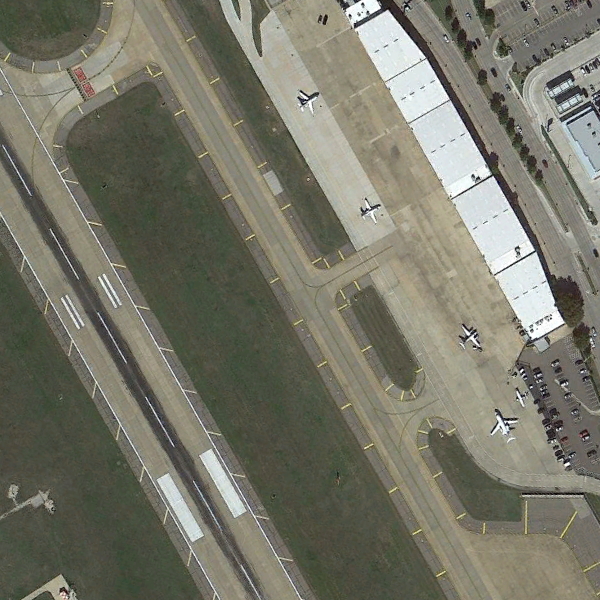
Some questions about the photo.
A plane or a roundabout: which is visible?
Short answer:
plane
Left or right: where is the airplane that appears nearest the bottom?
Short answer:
right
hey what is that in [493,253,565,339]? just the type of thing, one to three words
hangar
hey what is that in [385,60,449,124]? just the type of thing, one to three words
hangar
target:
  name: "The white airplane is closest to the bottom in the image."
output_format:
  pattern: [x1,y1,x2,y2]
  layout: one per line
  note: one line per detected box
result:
[491,411,519,444]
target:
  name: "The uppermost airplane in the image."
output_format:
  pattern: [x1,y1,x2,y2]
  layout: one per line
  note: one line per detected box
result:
[295,90,319,115]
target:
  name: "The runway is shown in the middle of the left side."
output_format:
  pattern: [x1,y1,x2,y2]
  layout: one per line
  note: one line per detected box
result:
[0,67,305,600]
